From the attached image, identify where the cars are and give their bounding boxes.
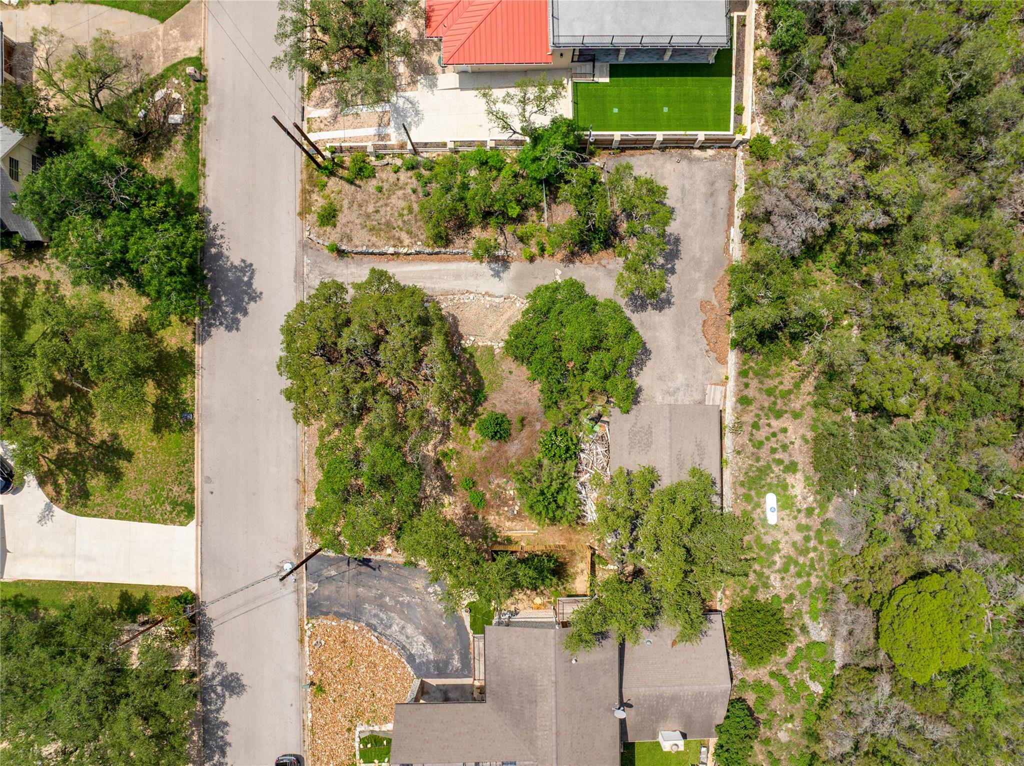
[277,754,301,766]
[0,463,11,490]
